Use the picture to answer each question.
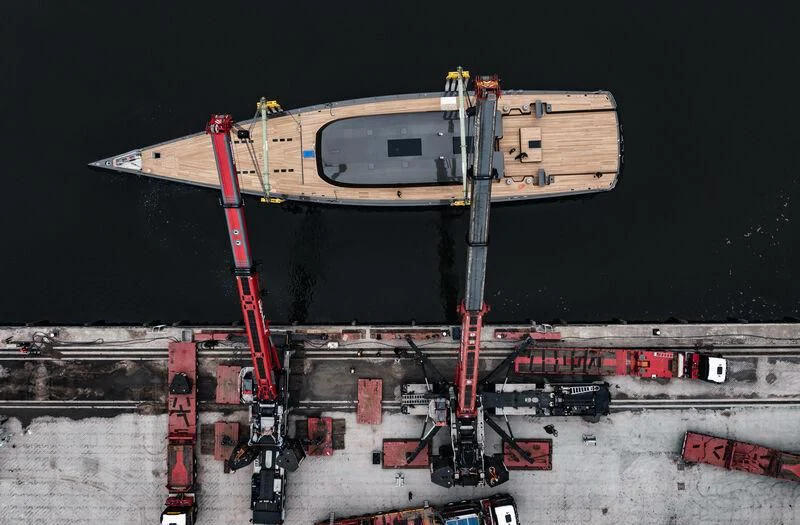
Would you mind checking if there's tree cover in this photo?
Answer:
No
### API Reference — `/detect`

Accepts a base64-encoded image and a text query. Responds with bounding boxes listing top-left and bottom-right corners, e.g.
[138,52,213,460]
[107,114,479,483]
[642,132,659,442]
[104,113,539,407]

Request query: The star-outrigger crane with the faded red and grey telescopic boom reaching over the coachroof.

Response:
[401,77,609,488]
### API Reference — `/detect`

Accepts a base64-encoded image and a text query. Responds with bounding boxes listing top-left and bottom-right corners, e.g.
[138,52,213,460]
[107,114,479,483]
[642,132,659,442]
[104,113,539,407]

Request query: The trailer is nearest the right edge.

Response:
[679,430,800,482]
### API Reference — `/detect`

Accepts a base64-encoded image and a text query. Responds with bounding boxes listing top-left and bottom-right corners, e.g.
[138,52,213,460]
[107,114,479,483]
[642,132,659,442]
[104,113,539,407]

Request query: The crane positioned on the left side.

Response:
[205,112,324,524]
